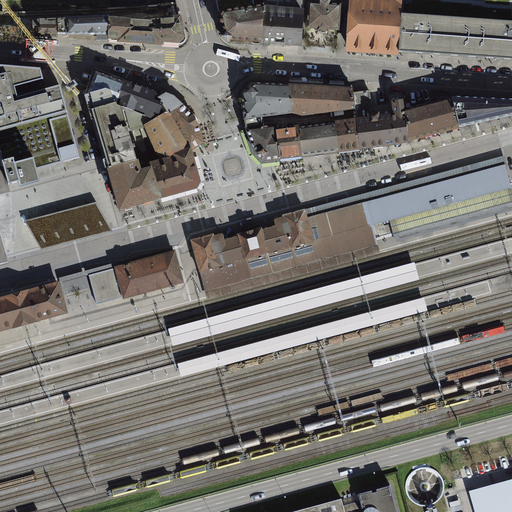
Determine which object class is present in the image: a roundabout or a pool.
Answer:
roundabout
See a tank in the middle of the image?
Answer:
No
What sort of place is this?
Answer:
rail yard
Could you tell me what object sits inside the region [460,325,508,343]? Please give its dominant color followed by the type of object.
red rail car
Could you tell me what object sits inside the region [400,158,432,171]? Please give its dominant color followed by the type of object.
white vehicle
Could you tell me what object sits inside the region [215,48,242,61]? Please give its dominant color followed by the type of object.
white vehicle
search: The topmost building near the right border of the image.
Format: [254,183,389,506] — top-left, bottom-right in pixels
[400,12,512,58]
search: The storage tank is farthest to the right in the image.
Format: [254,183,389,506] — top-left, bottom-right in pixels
[405,464,444,510]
